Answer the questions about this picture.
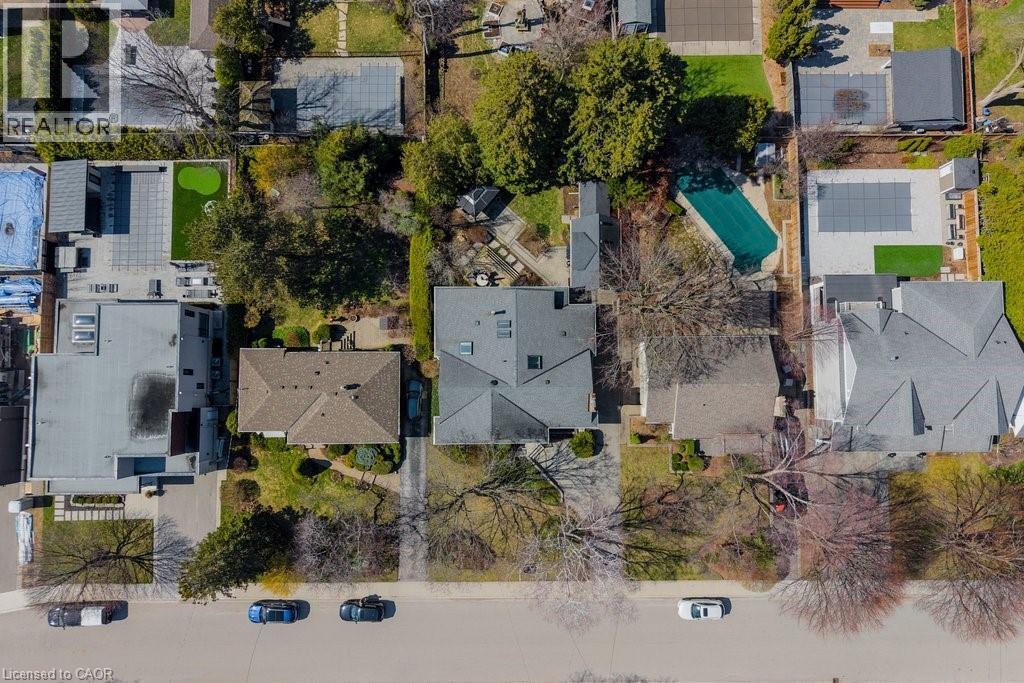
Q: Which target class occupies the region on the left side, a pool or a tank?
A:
pool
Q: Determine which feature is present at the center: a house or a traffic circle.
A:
house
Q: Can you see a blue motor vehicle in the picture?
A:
Yes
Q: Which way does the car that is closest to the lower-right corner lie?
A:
from left to right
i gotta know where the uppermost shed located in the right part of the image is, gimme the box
[615,0,652,33]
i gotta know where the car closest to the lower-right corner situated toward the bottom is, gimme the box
[677,597,725,621]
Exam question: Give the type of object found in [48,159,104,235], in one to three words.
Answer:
building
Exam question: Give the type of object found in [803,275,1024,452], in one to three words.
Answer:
house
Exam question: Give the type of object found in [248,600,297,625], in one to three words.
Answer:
car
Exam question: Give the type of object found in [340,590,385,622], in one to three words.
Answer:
car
